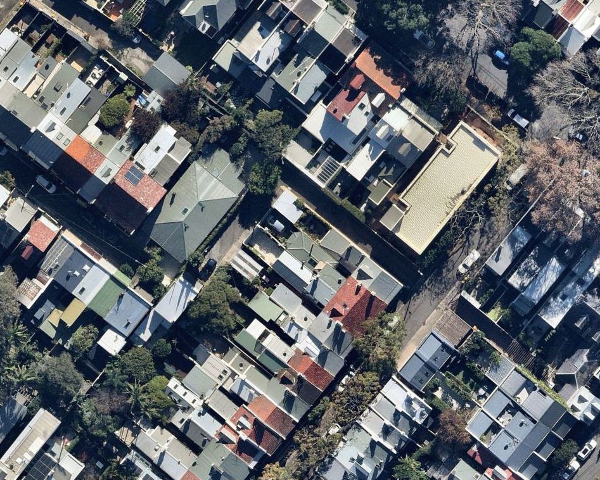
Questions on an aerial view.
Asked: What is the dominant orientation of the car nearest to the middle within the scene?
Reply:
diagonally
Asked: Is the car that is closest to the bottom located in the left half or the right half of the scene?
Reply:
right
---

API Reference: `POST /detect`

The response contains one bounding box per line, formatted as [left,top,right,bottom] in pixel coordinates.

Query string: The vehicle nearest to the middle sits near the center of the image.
[265,213,290,236]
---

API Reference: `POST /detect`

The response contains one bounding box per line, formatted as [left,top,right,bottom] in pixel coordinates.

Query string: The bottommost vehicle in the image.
[557,459,585,480]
